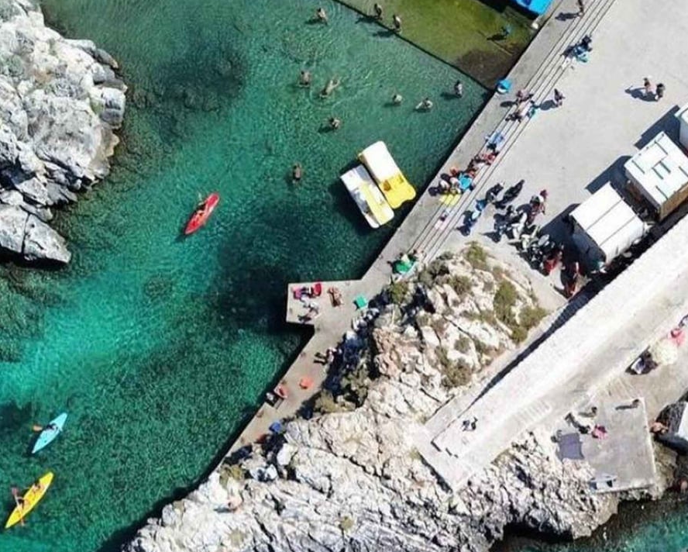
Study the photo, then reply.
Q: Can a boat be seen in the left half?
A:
Yes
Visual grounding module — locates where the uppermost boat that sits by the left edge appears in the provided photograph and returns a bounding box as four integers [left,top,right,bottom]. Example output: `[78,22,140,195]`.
[30,411,67,455]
